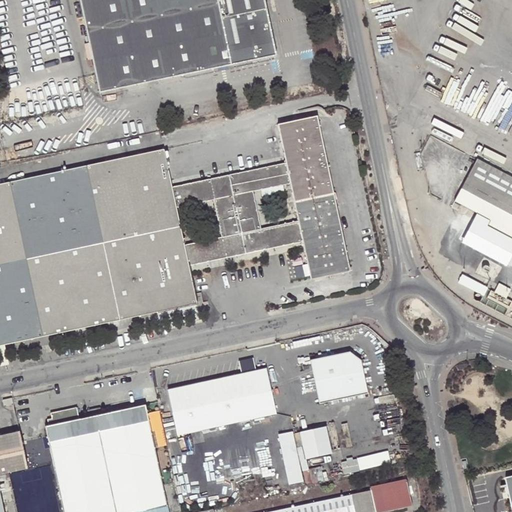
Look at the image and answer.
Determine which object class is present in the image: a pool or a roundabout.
roundabout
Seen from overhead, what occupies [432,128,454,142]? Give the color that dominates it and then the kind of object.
white vehicle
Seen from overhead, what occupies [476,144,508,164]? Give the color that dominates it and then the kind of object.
white vehicle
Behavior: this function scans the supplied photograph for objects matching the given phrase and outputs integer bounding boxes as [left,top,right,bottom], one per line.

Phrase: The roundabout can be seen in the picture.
[376,256,480,384]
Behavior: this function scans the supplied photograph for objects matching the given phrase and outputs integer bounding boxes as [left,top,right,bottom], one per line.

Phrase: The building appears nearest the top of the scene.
[80,0,276,92]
